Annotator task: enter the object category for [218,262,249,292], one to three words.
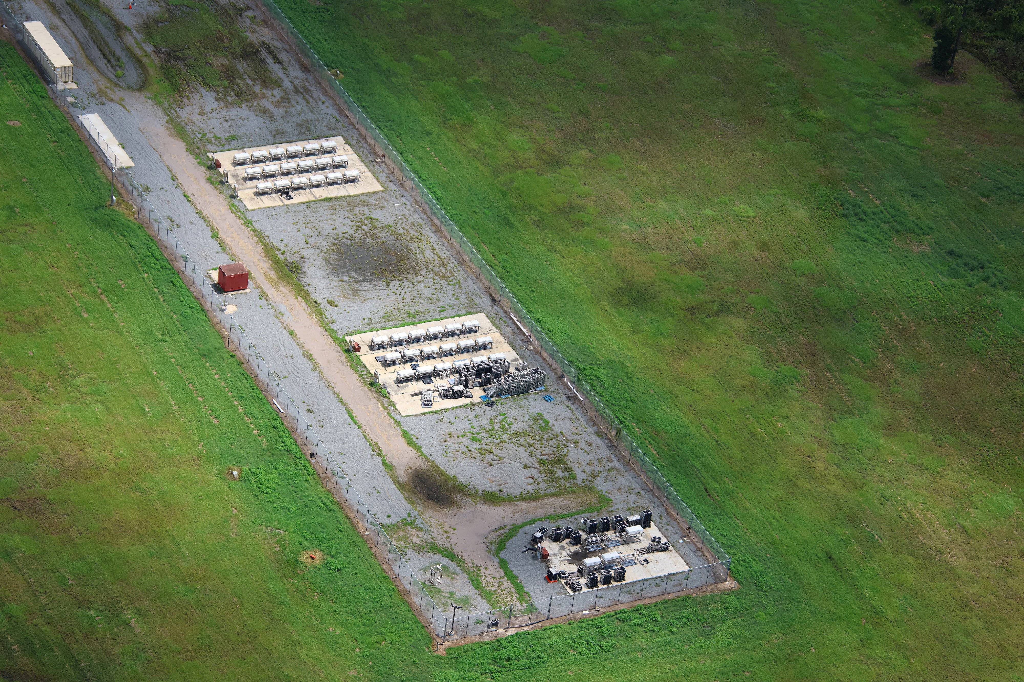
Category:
shed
